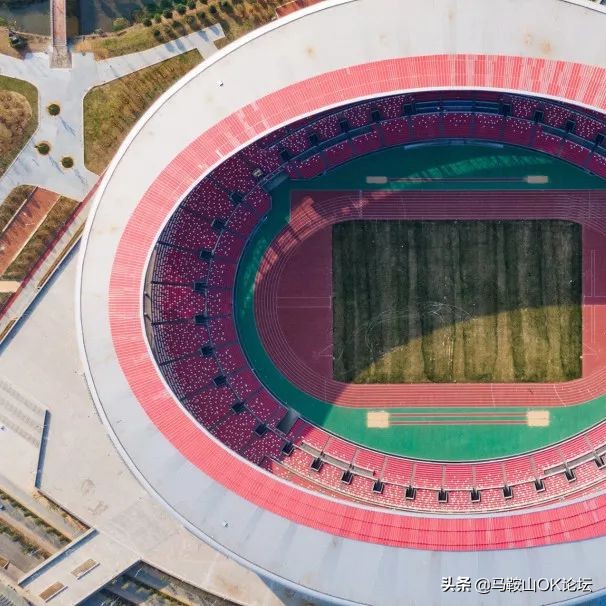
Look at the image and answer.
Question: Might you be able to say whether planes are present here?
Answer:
No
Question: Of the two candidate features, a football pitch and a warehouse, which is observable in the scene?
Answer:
football pitch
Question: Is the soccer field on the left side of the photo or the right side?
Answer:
right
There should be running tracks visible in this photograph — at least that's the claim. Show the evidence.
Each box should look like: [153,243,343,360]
[254,191,606,408]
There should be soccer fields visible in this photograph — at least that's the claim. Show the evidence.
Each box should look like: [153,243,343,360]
[333,220,582,383]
